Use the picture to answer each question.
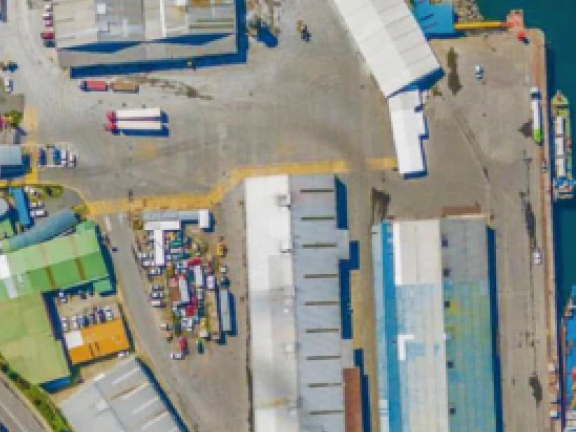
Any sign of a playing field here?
No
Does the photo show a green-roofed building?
Yes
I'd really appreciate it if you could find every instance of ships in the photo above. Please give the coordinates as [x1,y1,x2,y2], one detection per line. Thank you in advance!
[553,285,576,432]
[542,85,576,205]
